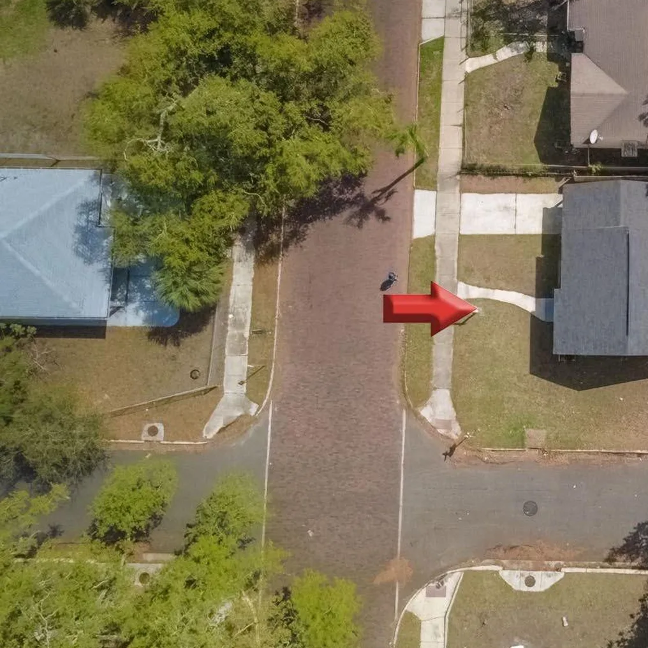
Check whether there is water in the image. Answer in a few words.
No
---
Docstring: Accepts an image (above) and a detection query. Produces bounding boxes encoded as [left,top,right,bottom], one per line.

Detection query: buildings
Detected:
[540,181,648,356]
[567,0,648,149]
[0,169,129,322]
